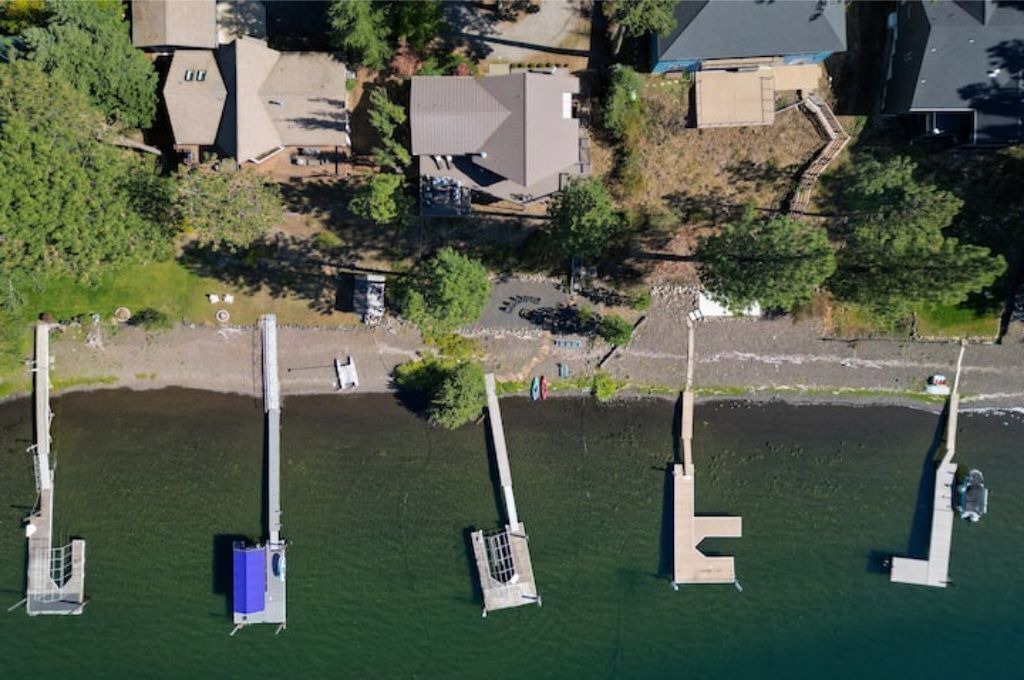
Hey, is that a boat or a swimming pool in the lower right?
boat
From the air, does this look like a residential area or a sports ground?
residential area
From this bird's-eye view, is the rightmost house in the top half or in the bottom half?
top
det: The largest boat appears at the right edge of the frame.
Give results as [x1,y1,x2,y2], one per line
[955,468,989,525]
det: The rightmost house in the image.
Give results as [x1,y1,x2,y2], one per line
[883,0,1024,150]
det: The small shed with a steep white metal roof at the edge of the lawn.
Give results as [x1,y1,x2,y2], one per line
[353,277,388,312]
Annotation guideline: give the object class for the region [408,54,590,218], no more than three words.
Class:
house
